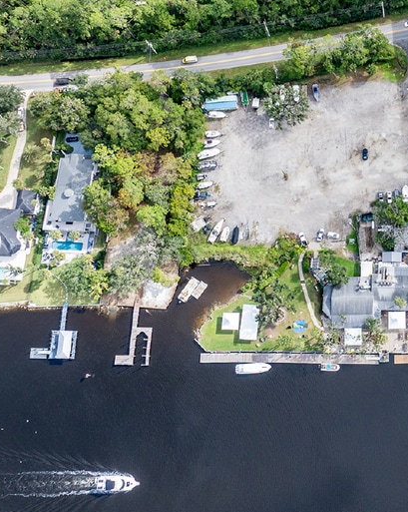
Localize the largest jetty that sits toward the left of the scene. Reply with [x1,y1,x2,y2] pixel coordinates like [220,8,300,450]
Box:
[114,305,155,366]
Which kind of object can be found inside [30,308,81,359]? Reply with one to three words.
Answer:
building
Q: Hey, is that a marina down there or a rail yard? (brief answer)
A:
marina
